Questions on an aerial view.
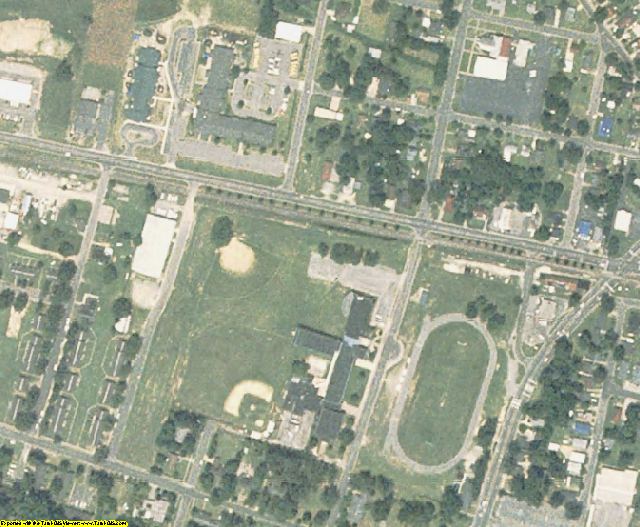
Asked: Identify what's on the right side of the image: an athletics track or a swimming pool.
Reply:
athletics track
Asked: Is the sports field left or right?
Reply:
right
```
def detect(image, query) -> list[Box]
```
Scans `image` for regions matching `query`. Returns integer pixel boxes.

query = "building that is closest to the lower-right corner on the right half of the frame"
[596,469,639,506]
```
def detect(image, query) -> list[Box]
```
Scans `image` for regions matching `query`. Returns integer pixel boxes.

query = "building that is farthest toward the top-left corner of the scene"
[0,78,33,107]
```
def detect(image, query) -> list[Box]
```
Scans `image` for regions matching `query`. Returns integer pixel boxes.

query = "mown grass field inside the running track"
[401,323,488,464]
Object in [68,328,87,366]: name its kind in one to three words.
building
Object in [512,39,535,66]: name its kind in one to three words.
building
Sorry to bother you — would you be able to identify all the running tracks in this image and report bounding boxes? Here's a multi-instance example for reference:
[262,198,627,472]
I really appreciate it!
[392,313,497,474]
